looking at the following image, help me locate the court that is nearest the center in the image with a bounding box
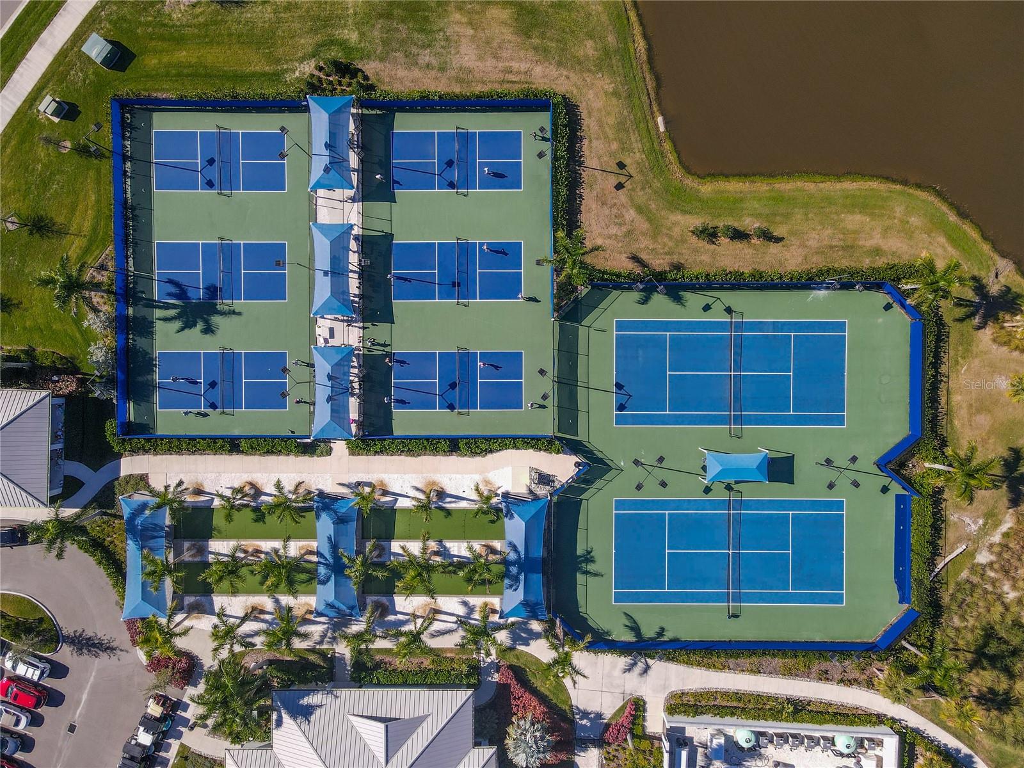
[393,350,523,411]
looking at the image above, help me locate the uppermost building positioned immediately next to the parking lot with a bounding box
[0,388,66,509]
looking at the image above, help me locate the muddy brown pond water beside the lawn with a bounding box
[637,0,1024,273]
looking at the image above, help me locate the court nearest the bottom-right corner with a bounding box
[614,499,845,605]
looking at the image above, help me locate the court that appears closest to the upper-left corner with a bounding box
[154,130,285,191]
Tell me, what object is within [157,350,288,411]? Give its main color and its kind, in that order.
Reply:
blue sports court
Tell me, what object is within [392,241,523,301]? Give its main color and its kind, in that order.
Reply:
blue sports court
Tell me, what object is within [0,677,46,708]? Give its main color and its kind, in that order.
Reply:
red car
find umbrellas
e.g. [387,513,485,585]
[834,733,856,755]
[734,728,756,750]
